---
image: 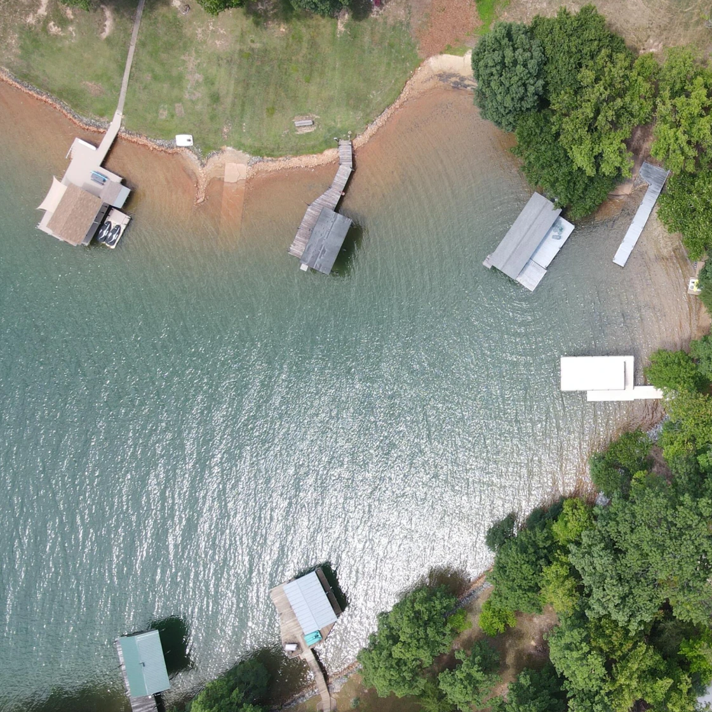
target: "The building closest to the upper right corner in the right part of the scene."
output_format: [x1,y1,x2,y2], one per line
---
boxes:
[482,192,575,292]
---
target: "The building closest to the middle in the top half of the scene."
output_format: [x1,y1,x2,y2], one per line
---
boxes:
[288,187,357,276]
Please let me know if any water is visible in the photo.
Yes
